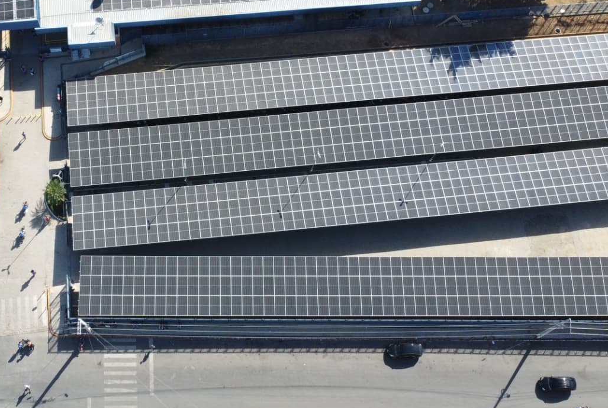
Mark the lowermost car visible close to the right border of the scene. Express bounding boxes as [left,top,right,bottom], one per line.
[536,377,580,396]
